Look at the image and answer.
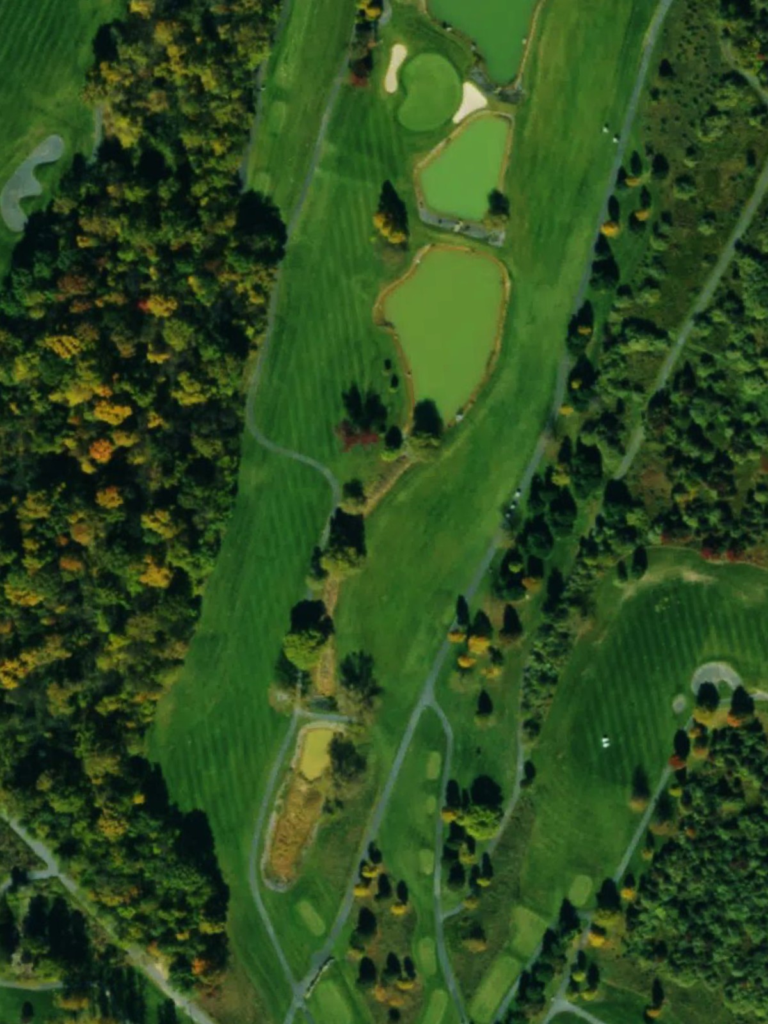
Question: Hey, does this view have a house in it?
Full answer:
No, there appears to be no house in this shot.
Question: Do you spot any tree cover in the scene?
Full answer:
Yes, the picture does contain tree cover.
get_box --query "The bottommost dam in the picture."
[415,208,507,248]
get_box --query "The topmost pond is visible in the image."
[422,0,545,89]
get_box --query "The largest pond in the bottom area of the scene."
[294,722,344,785]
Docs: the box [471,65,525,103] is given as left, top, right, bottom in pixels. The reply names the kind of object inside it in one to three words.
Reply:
dam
